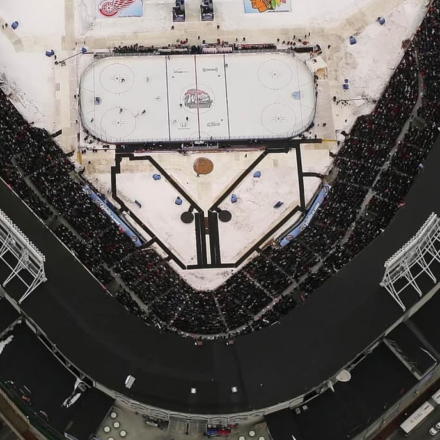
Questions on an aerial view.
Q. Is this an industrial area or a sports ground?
sports ground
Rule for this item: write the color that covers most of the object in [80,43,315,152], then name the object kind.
white sports court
